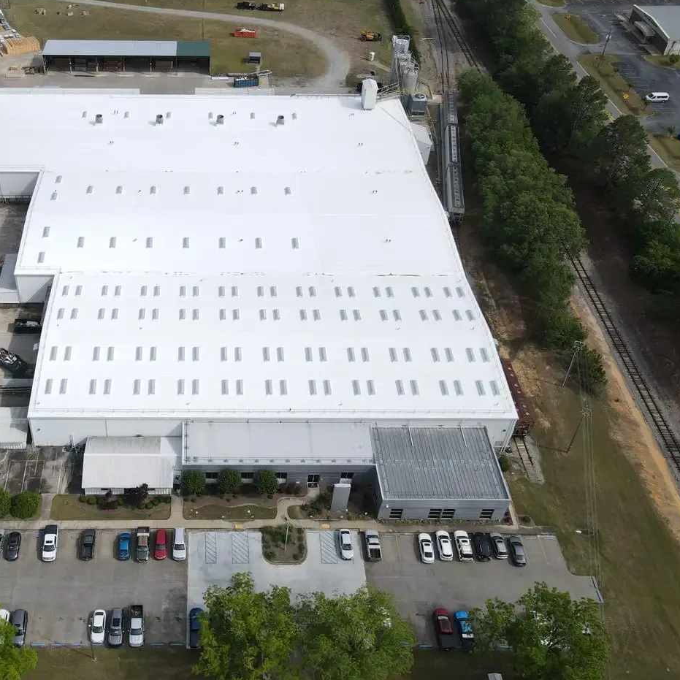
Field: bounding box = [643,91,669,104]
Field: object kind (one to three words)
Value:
vehicle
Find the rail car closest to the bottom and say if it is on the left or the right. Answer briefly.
right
